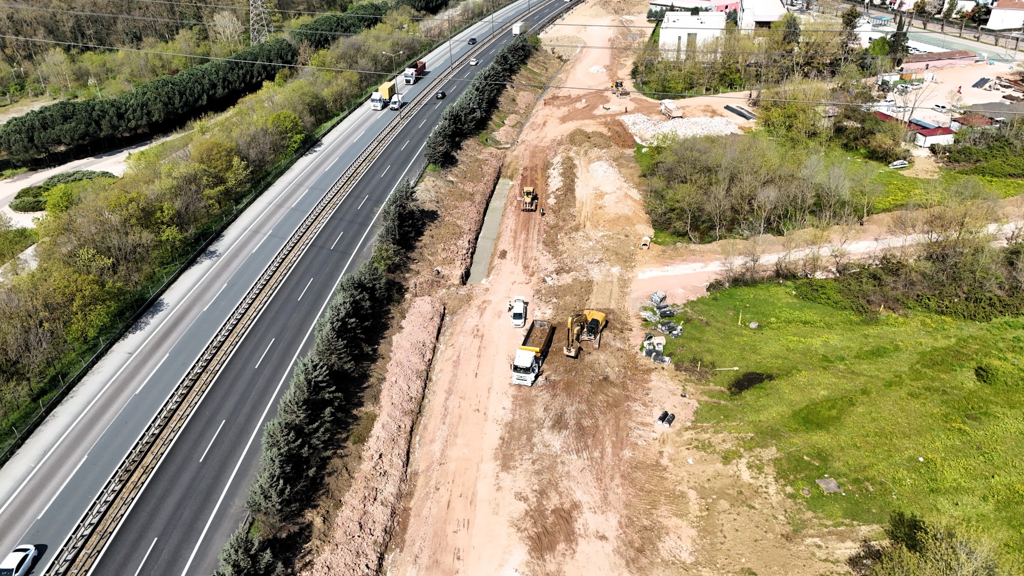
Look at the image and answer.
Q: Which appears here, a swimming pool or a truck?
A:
truck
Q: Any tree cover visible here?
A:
Yes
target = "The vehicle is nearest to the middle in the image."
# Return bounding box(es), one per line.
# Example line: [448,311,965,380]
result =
[512,297,526,325]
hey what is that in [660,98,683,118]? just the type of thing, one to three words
vehicle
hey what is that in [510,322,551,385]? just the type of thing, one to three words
truck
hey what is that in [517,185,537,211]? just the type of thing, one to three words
work vehicle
